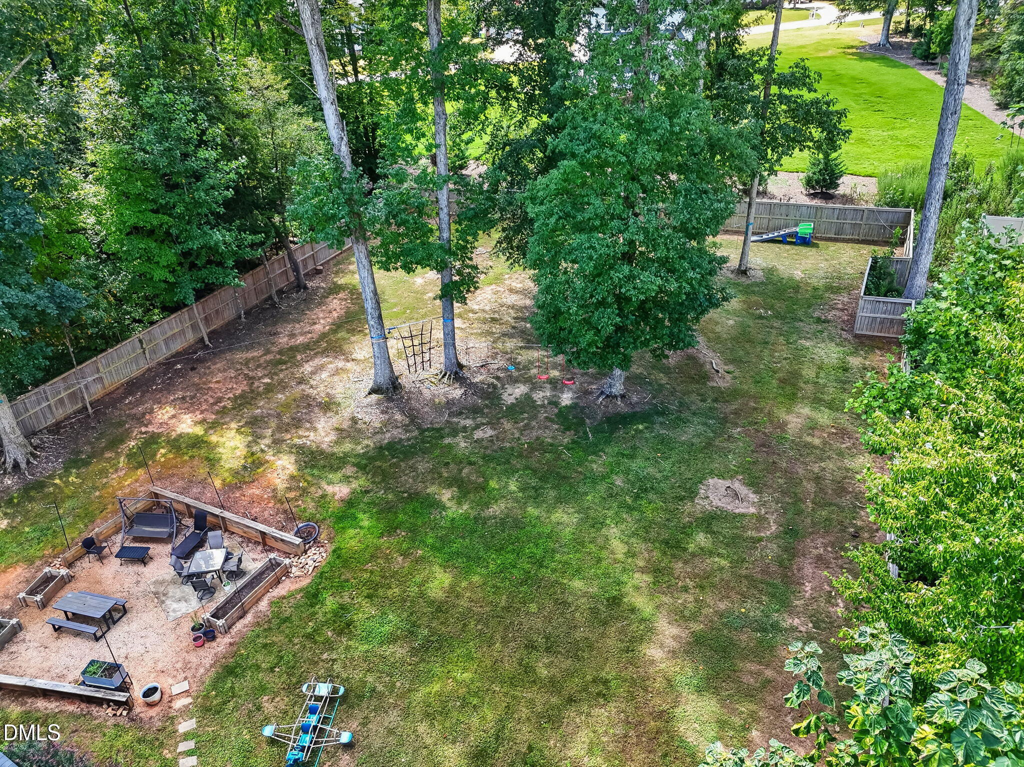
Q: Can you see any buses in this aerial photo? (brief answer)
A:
No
